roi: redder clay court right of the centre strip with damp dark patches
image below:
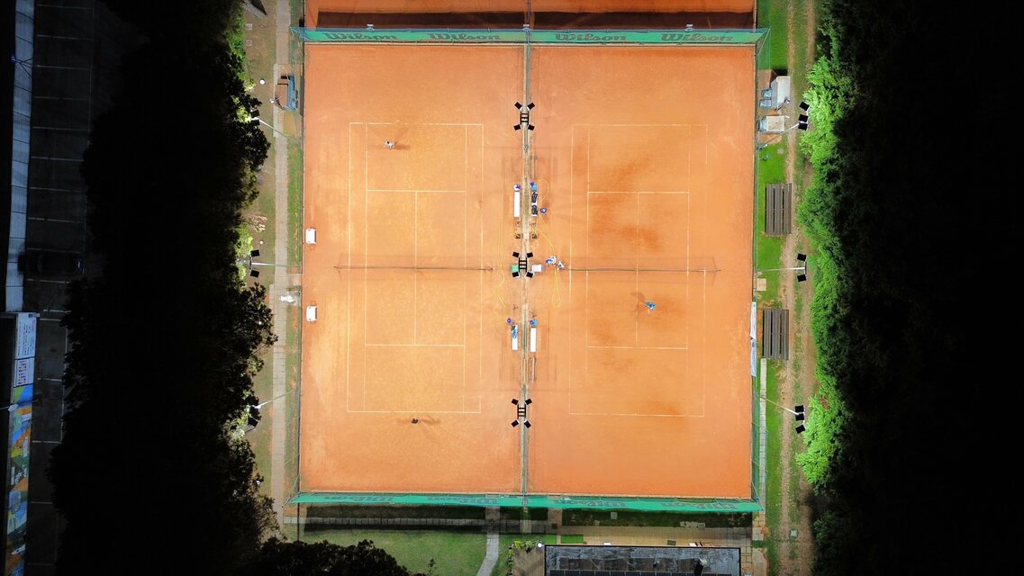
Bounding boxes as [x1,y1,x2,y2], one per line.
[528,46,755,499]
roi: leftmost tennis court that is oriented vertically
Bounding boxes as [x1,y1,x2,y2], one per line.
[300,45,521,495]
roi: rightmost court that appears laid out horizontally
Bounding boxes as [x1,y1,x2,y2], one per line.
[531,0,757,34]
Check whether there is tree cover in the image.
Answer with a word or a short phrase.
Yes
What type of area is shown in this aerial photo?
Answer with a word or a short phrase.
sports ground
